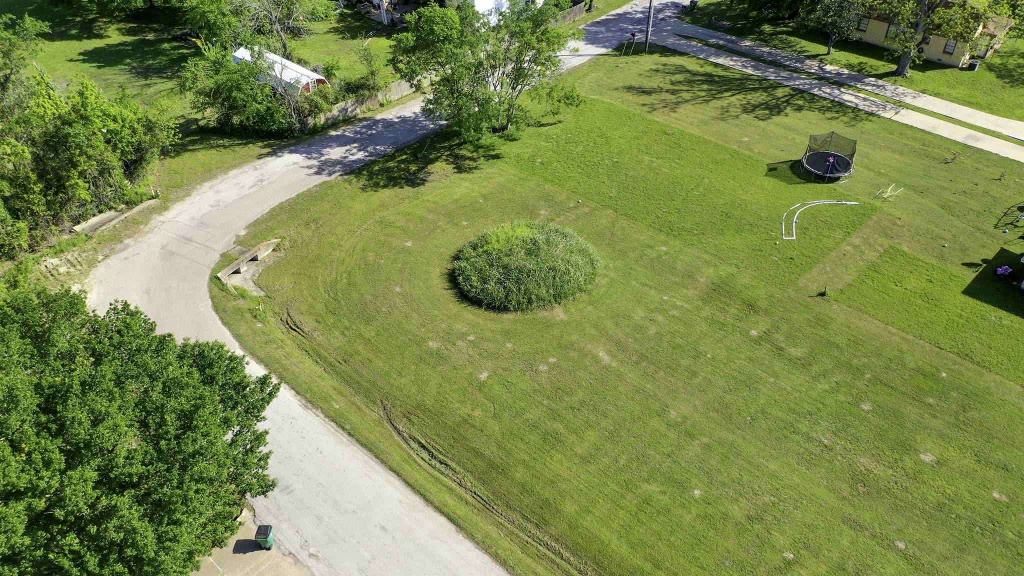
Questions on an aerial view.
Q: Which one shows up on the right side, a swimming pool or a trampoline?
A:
trampoline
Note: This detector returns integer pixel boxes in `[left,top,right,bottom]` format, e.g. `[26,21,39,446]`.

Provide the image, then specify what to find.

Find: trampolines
[798,130,867,187]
